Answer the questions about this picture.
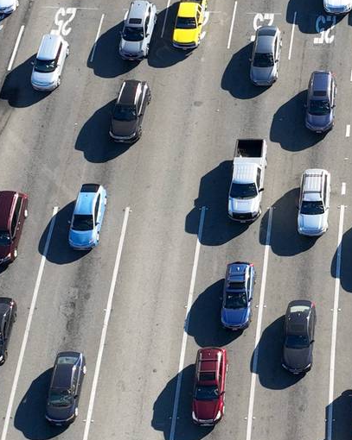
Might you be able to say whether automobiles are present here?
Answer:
Yes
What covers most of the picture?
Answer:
paved ground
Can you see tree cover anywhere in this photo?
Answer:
No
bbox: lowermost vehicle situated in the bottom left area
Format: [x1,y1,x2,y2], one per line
[44,352,88,426]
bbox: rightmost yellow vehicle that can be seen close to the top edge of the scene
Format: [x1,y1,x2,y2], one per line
[170,0,209,51]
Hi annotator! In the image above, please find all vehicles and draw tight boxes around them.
[0,0,21,14]
[0,190,32,267]
[44,352,88,426]
[226,138,267,225]
[281,302,317,375]
[248,27,282,86]
[296,168,332,236]
[67,184,108,249]
[170,0,209,51]
[119,0,158,61]
[303,70,336,133]
[109,80,151,143]
[29,32,70,93]
[0,299,17,368]
[323,0,352,15]
[189,348,230,426]
[220,259,257,331]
